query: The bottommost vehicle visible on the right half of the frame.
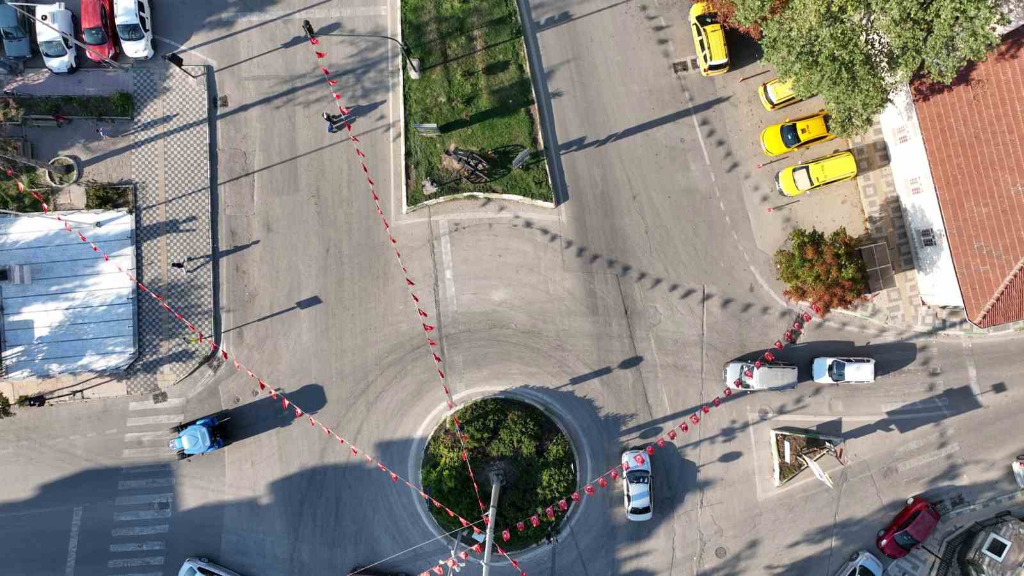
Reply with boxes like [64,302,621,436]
[830,550,880,576]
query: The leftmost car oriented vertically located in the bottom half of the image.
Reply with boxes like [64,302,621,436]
[620,445,655,520]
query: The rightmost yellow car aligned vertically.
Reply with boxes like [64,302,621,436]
[687,4,729,80]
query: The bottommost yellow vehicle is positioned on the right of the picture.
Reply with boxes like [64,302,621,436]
[772,149,858,197]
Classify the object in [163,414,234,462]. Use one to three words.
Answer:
work vehicle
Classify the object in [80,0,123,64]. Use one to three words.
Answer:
car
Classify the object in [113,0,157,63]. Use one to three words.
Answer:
car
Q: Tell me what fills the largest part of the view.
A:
paved ground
